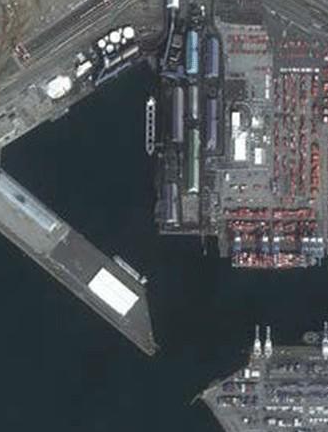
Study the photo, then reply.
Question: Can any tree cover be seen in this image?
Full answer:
No, tree cover can't be seen anywhere here.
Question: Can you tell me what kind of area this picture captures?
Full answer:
This image shows a port.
